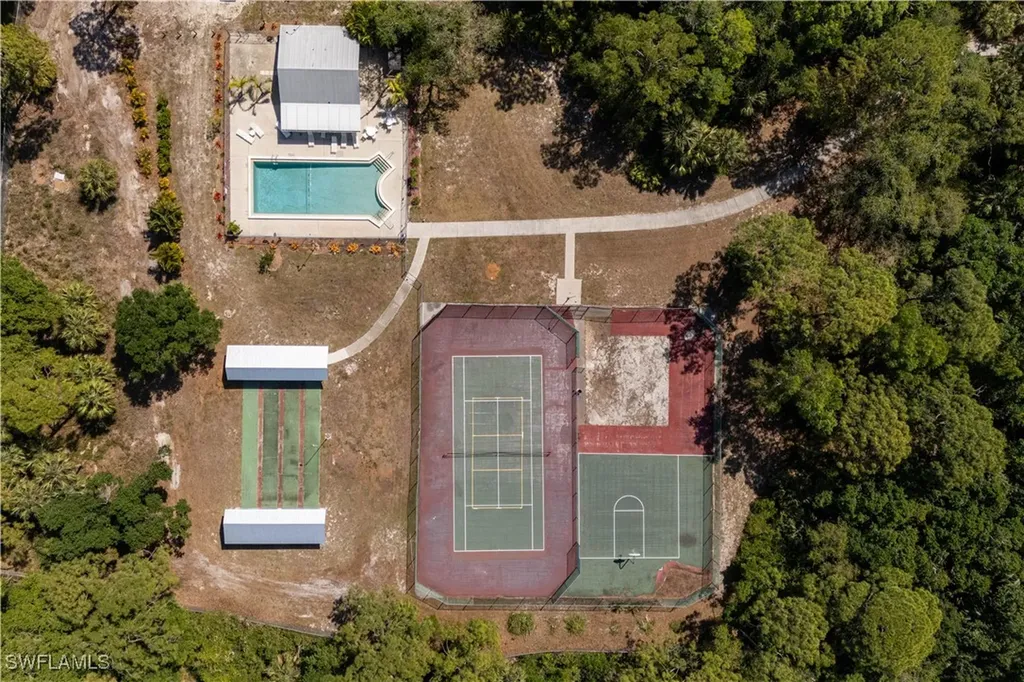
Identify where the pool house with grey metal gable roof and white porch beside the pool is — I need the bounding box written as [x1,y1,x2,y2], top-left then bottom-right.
[277,25,362,135]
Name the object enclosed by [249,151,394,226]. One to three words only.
swimming pool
